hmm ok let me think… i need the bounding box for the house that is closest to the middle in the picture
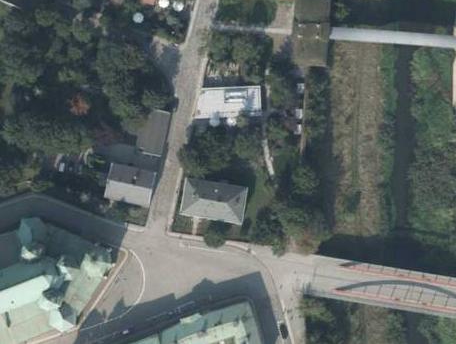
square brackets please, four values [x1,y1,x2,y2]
[180,177,248,226]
